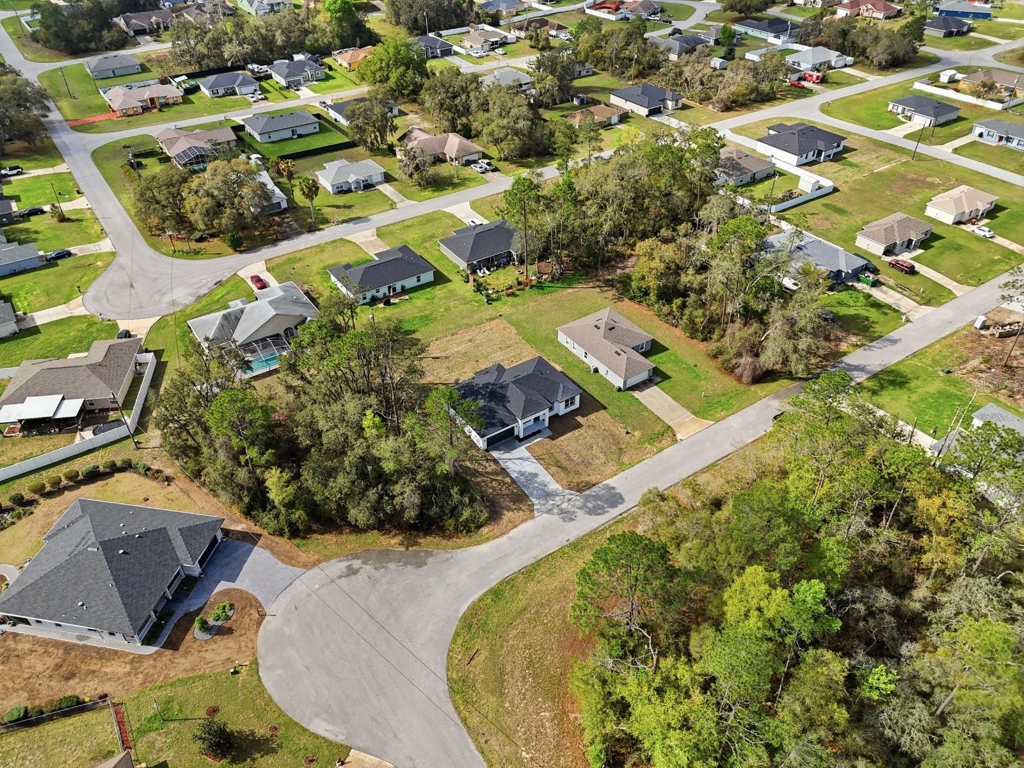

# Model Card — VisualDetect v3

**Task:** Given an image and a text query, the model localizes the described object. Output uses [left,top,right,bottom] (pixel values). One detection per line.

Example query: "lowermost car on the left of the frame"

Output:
[116,326,130,339]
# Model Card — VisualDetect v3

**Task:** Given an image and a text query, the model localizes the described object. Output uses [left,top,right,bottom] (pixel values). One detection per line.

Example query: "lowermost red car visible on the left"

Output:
[248,272,265,286]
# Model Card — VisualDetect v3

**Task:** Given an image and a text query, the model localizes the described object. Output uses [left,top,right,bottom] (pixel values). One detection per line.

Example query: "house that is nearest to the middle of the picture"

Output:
[447,356,585,450]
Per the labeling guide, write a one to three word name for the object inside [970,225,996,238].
vehicle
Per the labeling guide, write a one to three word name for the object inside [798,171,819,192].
shed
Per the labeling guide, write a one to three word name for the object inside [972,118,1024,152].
house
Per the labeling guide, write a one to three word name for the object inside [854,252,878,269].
vehicle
